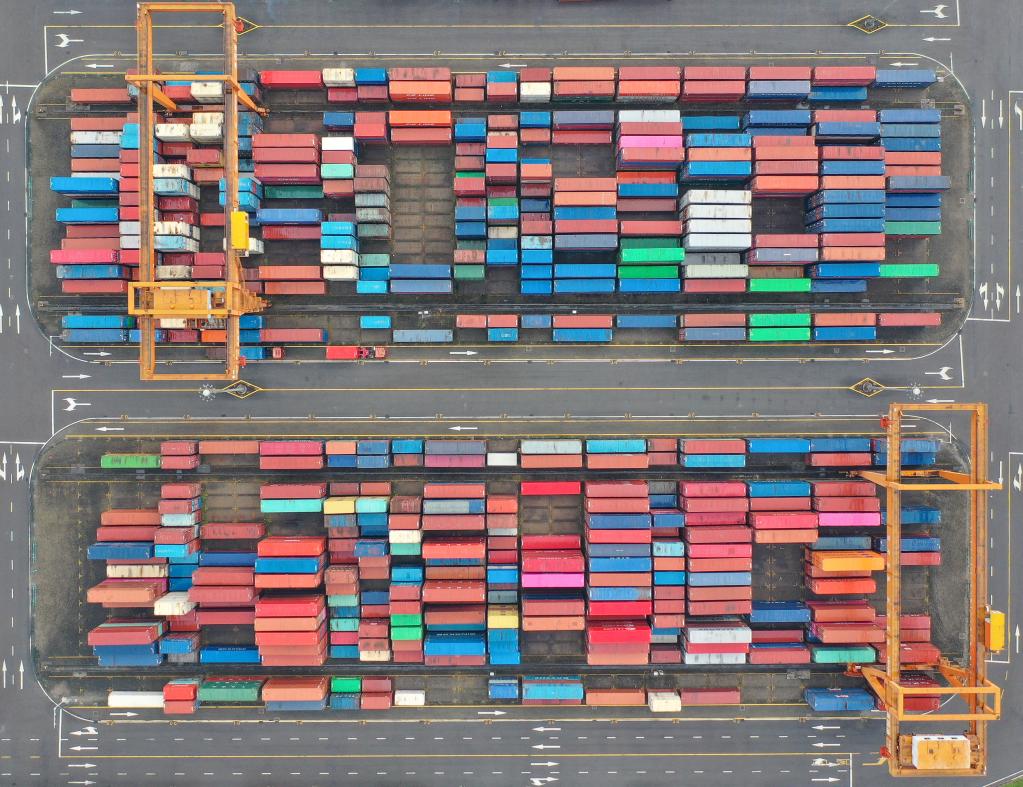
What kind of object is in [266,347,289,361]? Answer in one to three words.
vehicle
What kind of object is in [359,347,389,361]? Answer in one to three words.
vehicle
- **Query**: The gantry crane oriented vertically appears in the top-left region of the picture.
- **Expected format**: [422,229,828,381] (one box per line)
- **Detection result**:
[122,1,279,381]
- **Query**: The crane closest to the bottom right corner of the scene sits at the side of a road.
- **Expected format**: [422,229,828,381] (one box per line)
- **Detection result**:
[833,402,1004,777]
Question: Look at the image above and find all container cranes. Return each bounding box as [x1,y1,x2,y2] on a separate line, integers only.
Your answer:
[833,402,1004,777]
[122,1,279,381]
